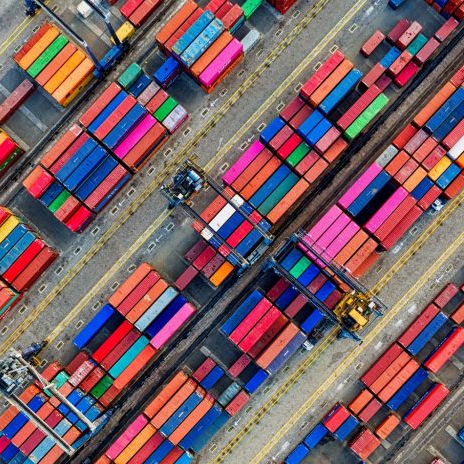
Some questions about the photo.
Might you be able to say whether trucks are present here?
Yes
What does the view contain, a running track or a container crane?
container crane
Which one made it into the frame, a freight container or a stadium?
freight container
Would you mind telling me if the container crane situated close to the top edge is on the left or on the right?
left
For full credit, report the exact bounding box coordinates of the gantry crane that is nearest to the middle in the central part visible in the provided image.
[164,157,280,275]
